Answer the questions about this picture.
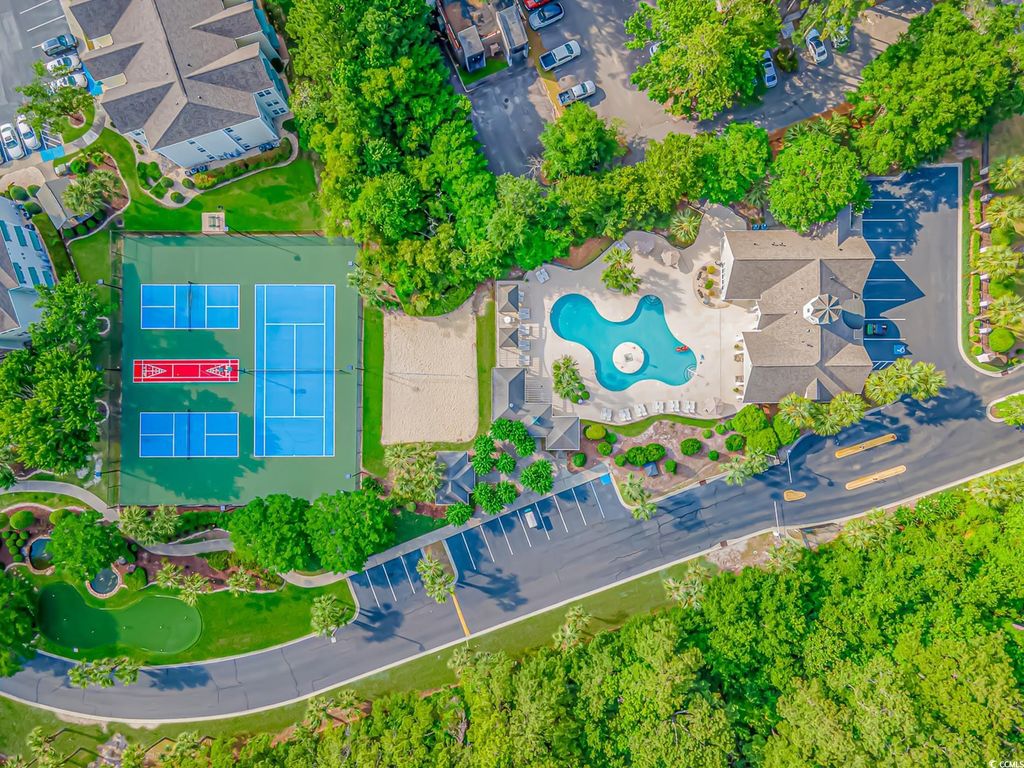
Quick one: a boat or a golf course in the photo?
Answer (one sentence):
I can see a golf course in this picture.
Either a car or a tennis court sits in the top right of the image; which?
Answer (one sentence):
Looking in the top right of the image, you will find a car.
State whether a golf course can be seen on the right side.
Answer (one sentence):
No, no golf course appears on the right side.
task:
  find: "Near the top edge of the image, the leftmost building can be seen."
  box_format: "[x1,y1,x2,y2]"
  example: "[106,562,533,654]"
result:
[69,0,286,166]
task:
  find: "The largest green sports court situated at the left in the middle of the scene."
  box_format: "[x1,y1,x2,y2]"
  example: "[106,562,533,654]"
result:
[119,234,357,505]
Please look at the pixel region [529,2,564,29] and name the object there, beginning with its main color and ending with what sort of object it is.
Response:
blue car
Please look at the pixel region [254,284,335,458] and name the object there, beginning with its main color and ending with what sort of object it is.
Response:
blue tennis court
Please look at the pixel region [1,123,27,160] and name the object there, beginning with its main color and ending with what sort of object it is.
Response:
white car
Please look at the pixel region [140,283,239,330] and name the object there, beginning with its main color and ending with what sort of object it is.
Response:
blue sports court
